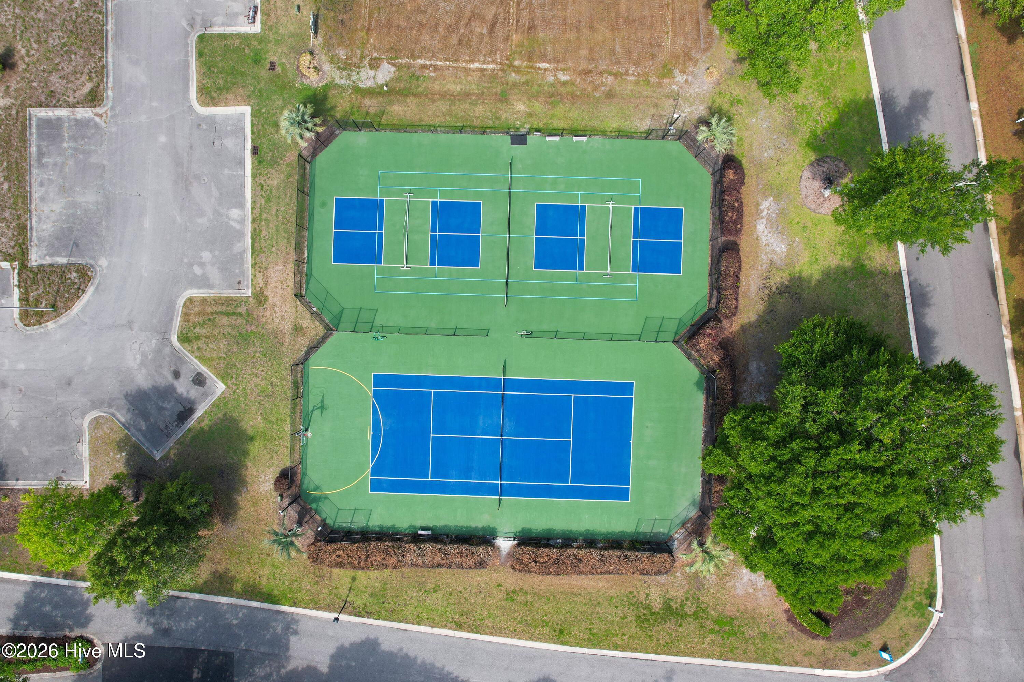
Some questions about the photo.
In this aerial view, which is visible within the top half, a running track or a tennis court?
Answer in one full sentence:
The feature located within the top half is a tennis court.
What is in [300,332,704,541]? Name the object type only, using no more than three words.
tennis court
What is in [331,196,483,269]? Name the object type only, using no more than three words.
sports court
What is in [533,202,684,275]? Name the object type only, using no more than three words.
sports court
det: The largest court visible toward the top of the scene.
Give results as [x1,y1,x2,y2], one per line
[305,131,711,341]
